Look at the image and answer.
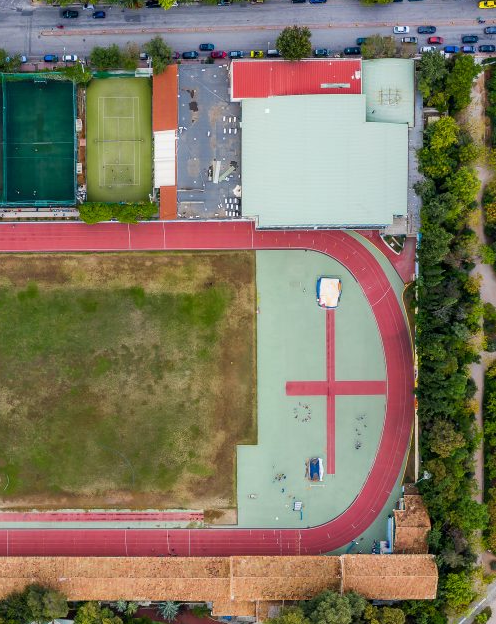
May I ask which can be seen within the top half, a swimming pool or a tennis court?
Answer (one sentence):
Looking within the top half, you will find a tennis court.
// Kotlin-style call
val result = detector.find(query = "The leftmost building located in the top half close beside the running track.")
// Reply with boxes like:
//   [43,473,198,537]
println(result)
[153,64,177,224]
